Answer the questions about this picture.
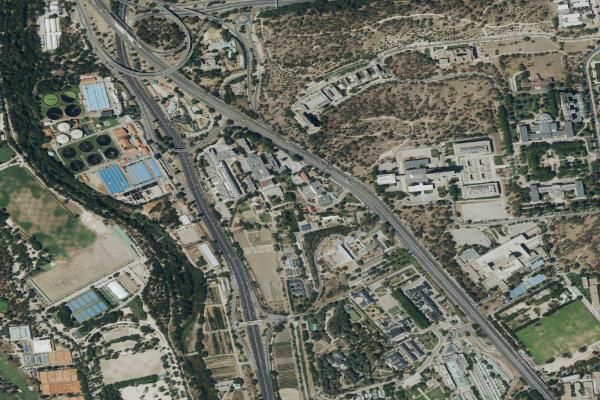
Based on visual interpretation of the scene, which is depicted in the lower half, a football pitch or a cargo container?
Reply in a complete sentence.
The one visible in the lower half is a football pitch.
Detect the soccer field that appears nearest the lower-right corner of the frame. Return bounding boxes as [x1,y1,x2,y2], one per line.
[515,299,600,364]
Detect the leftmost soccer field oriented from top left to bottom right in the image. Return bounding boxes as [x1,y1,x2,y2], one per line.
[0,163,97,263]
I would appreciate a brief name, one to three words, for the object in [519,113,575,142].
building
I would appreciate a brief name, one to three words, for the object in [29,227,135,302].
sports field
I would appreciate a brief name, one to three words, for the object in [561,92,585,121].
building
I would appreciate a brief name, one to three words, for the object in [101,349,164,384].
sports field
